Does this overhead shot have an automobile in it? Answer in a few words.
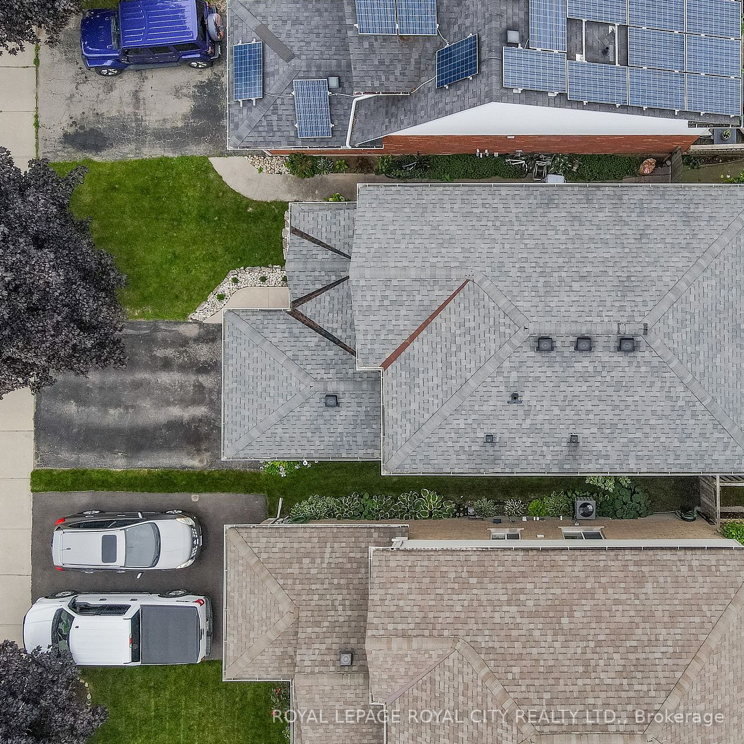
Yes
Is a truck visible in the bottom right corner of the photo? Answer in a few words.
No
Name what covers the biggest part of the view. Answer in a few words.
buildings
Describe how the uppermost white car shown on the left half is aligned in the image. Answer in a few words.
from left to right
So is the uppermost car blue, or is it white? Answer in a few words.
blue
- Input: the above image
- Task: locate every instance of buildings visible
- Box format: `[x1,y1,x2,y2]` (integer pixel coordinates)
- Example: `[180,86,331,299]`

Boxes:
[222,184,744,476]
[227,0,743,158]
[223,519,744,744]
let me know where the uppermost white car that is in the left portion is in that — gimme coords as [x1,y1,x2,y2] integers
[47,508,204,581]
